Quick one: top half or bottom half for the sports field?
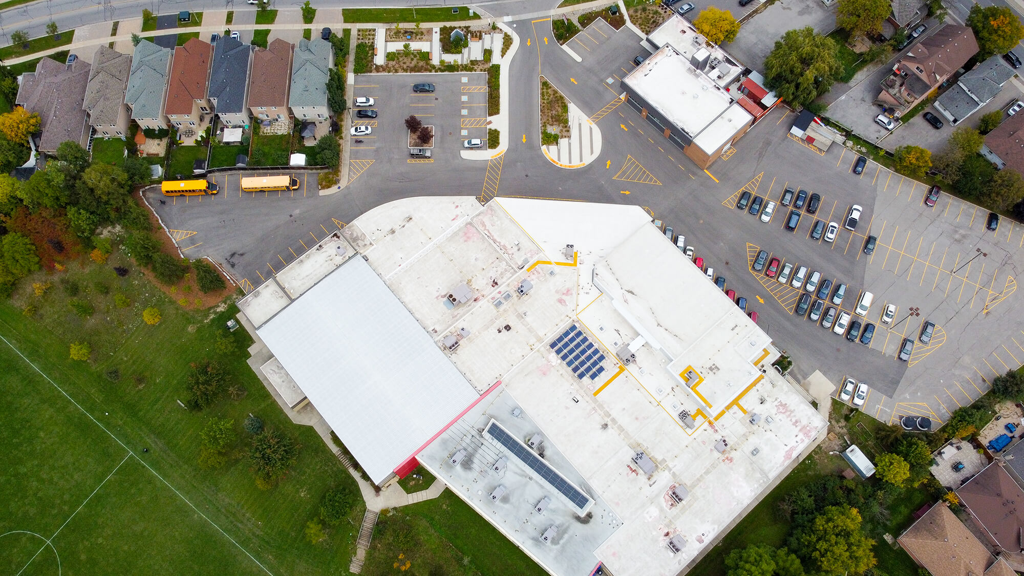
bottom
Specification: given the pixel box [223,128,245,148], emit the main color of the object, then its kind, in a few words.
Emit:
white gazebo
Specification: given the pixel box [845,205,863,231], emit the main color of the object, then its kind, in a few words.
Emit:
white vehicle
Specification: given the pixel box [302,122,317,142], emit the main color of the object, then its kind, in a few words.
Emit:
gray gazebo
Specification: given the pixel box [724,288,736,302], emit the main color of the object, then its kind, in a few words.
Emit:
red vehicle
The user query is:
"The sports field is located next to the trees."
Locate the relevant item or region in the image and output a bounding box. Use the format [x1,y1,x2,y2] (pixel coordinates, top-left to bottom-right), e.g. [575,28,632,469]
[0,320,299,576]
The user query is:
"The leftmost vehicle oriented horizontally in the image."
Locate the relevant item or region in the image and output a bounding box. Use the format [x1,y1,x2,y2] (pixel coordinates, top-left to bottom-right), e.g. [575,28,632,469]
[159,179,222,198]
